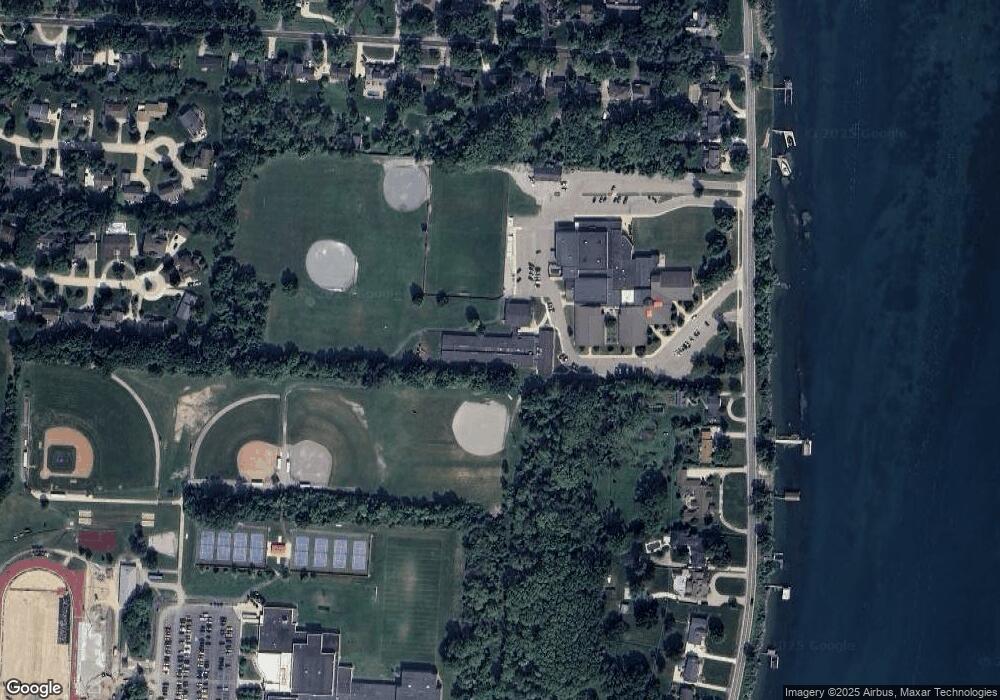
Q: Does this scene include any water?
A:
Yes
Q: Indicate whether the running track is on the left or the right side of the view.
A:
left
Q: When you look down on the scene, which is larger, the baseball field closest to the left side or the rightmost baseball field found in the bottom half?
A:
the baseball field closest to the left side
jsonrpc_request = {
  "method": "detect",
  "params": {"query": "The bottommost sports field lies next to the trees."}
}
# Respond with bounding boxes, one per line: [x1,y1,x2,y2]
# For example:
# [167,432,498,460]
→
[376,533,461,664]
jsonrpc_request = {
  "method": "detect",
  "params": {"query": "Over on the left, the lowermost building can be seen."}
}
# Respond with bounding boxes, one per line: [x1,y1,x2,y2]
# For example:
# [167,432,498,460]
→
[242,608,438,700]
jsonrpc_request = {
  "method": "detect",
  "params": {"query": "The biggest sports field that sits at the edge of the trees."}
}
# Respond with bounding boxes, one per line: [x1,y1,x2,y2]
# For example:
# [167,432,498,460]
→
[237,154,500,350]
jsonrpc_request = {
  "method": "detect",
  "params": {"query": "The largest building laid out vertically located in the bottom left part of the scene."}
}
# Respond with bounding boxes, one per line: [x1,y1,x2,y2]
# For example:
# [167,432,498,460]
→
[119,565,136,610]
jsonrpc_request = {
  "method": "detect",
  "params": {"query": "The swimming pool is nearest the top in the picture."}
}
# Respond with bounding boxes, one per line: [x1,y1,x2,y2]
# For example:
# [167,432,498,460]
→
[364,79,385,99]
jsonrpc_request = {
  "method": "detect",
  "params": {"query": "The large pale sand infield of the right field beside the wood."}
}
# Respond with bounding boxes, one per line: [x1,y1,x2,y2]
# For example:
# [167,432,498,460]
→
[452,401,508,456]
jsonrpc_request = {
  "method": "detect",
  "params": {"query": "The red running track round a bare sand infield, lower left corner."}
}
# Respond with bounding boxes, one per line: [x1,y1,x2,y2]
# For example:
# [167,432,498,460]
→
[0,559,86,700]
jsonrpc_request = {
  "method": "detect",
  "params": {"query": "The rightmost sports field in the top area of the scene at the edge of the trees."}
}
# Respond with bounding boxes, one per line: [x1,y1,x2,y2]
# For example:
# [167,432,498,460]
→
[425,164,507,296]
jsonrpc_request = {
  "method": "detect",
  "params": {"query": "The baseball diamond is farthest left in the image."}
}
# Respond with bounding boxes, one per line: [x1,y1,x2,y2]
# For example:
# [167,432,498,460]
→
[26,374,160,489]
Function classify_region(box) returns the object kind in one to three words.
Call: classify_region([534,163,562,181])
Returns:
building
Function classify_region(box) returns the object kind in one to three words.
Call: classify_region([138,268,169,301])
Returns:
roundabout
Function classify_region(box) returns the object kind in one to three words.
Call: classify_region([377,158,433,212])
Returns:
baseball field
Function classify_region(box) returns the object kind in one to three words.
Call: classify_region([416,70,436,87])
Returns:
house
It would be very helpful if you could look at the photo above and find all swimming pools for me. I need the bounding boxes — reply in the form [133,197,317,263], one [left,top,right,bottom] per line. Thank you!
[364,79,385,99]
[646,539,662,552]
[107,223,127,233]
